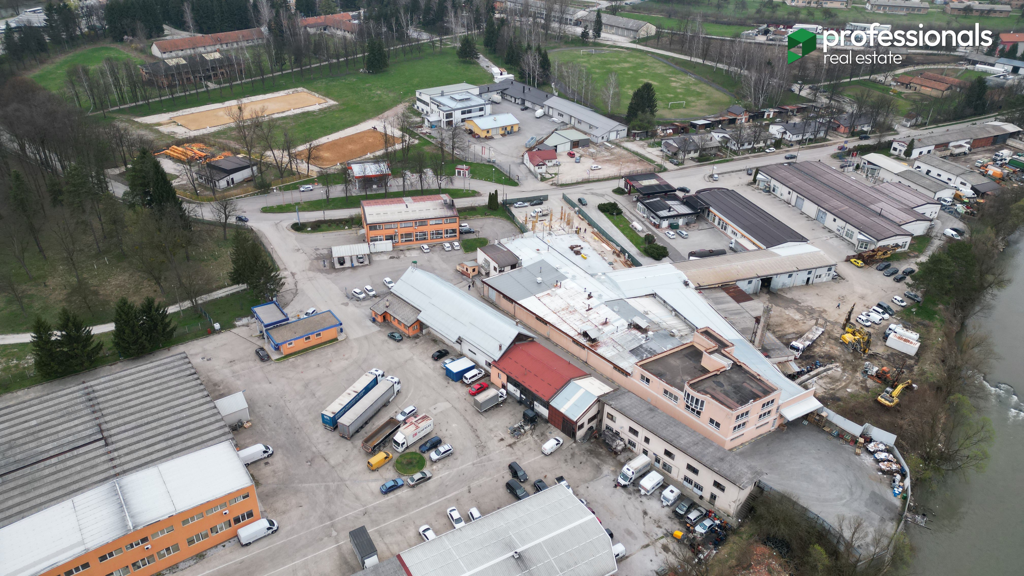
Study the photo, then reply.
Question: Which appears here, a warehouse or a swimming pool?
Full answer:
There is a warehouse in the scene.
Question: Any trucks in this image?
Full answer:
Yes, I can see a truck in this picture.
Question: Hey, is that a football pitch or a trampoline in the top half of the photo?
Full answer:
It is a football pitch that can be seen in the top half of the photo.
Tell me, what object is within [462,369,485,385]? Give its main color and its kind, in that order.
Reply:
white vehicle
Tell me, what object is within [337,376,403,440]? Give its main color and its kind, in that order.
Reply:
white truck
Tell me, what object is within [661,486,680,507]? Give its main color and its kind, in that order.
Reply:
white camper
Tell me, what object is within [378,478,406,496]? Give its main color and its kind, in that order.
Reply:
blue car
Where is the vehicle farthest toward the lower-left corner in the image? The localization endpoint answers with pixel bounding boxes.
[233,515,276,542]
